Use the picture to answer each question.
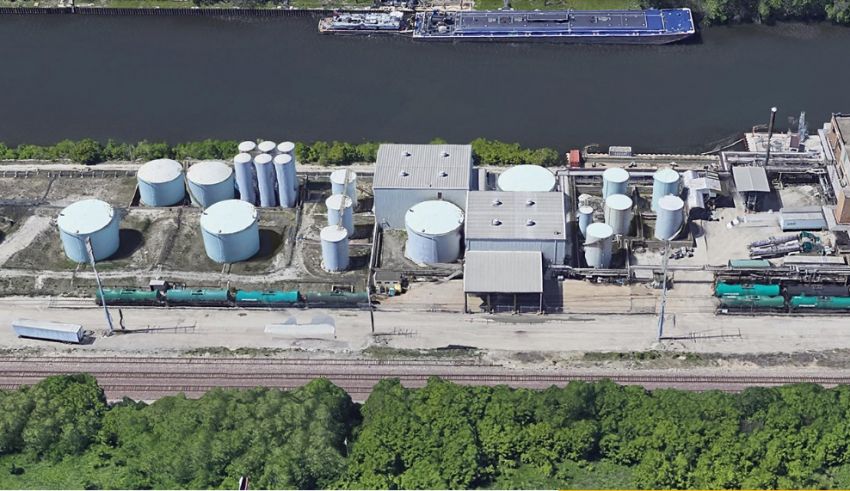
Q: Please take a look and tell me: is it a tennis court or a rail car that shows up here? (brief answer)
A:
rail car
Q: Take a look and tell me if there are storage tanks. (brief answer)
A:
Yes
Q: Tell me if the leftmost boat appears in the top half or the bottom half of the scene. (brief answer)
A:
top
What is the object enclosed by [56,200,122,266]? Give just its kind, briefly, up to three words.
storage tank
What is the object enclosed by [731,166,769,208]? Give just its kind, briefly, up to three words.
shed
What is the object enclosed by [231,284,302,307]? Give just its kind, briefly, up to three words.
rail car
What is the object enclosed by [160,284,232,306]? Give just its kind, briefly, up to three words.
rail car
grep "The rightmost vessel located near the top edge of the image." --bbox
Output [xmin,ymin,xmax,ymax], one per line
[412,9,695,43]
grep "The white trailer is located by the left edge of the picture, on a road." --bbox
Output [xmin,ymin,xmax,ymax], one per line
[14,318,83,343]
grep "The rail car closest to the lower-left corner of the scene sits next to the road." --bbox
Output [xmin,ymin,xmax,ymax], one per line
[90,284,163,305]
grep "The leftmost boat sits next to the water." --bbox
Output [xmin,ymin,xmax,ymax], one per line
[321,3,405,35]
